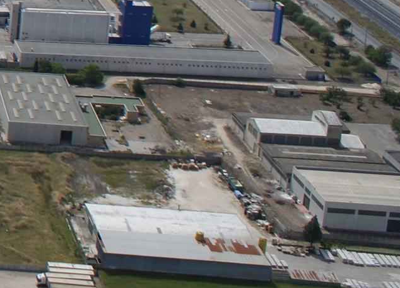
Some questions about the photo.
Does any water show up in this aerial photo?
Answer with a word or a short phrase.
No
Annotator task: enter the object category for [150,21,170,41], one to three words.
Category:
vehicle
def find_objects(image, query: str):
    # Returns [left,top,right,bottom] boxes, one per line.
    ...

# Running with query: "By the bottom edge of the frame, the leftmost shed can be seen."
[79,205,271,279]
